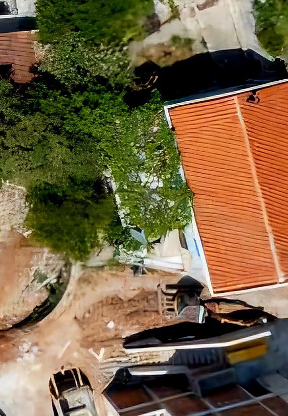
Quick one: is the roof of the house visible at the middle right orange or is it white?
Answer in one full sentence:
In this view, the roof of the house visible at the middle right is orange.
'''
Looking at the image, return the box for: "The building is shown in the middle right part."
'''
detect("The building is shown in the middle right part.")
[163,78,288,297]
